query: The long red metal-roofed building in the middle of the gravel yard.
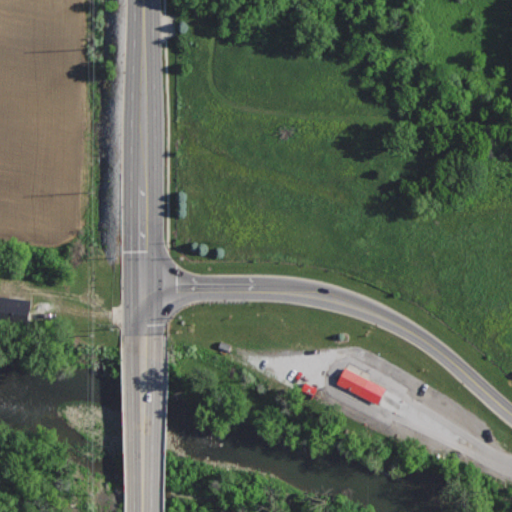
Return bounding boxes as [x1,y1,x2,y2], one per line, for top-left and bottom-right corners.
[338,370,385,404]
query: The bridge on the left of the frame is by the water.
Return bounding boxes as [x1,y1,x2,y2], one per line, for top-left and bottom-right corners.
[121,334,168,512]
